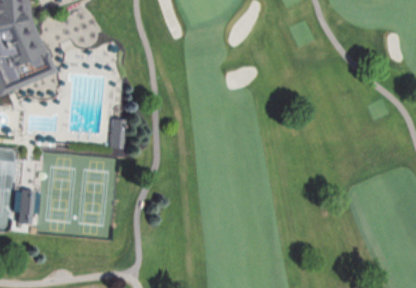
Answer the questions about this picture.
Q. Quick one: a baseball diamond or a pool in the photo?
pool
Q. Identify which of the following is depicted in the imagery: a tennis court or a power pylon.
tennis court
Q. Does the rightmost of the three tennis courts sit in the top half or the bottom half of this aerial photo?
bottom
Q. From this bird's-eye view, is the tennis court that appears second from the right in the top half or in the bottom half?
bottom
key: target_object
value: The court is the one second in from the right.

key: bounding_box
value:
[38,154,80,236]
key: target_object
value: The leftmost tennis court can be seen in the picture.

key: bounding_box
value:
[0,150,15,232]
